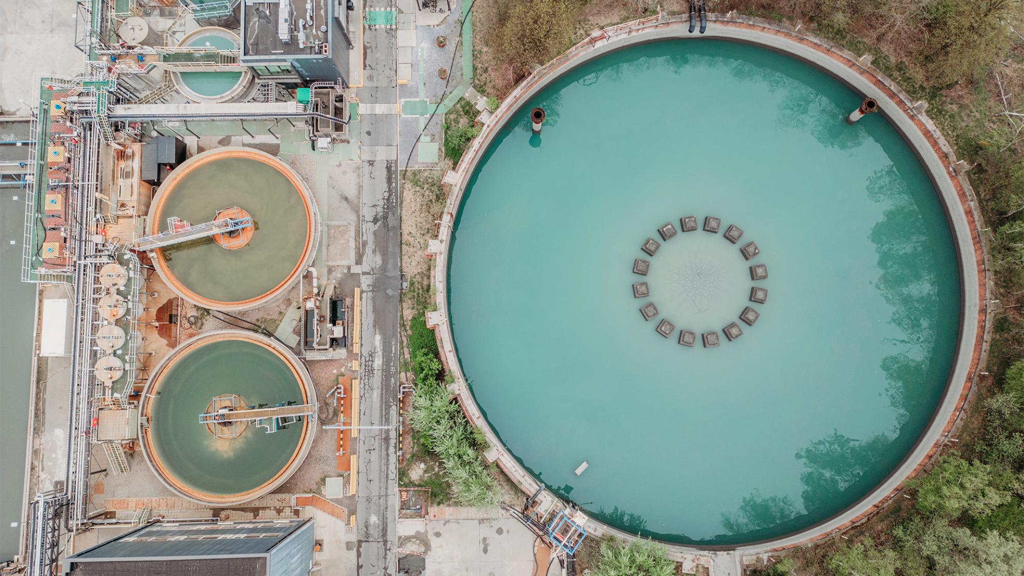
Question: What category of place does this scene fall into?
industrial area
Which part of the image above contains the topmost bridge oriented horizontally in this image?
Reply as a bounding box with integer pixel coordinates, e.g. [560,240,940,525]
[79,111,353,140]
